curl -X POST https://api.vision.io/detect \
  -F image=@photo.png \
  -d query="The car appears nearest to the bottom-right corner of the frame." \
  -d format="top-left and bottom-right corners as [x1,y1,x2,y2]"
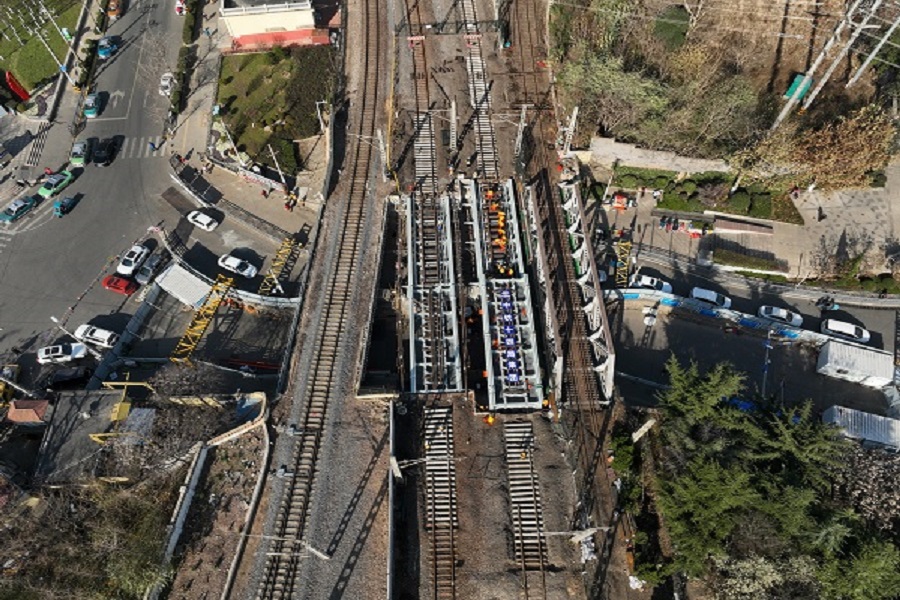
[817,314,873,347]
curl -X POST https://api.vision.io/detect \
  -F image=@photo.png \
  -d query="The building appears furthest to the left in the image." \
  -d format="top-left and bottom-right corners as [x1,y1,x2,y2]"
[5,398,53,424]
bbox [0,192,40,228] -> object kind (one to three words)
car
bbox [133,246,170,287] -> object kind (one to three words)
car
